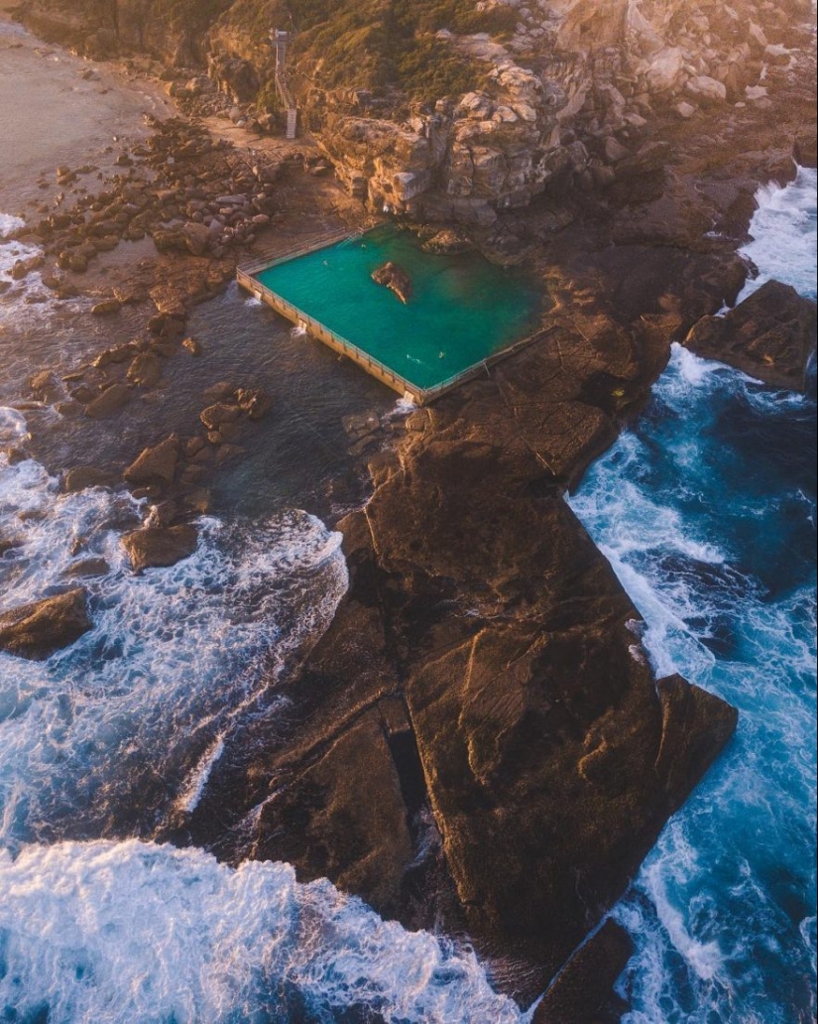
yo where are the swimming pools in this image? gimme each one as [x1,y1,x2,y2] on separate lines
[254,224,540,398]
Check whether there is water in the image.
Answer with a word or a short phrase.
Yes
